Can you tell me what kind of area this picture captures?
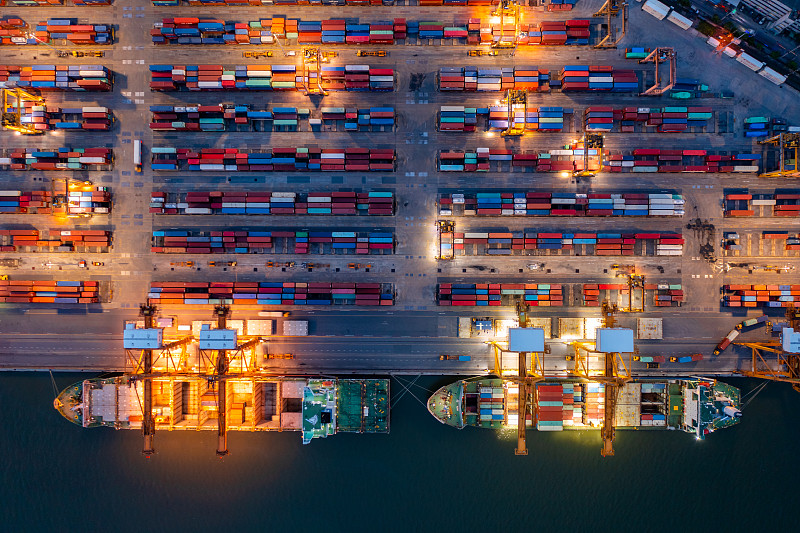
port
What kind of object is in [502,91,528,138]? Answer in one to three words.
container crane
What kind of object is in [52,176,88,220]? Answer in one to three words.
container crane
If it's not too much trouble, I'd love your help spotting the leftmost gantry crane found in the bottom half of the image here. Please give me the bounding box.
[123,297,191,454]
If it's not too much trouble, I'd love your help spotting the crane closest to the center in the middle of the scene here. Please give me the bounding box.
[433,219,458,261]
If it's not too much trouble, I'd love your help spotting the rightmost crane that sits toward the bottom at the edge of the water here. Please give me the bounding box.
[739,301,800,395]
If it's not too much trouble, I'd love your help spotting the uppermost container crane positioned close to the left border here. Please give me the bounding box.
[3,88,41,135]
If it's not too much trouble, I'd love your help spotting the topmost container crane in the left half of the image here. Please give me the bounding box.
[302,48,328,98]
